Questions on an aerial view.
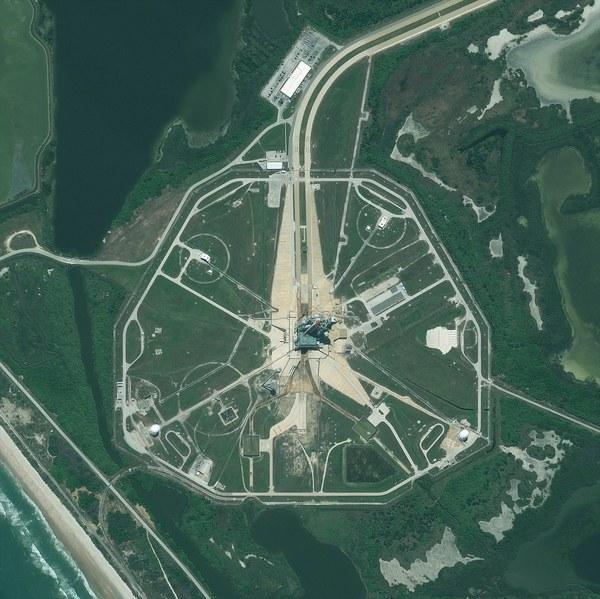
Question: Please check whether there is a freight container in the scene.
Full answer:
No, there is no freight container in the image.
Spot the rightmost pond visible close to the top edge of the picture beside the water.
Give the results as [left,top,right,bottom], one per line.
[506,0,600,114]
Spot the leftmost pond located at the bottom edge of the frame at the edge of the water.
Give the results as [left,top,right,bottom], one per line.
[253,508,366,599]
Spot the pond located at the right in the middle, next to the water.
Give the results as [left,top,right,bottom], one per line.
[536,146,600,383]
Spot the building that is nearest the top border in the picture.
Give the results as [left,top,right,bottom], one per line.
[280,60,311,98]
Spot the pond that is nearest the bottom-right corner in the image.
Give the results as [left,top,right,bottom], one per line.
[506,486,600,594]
